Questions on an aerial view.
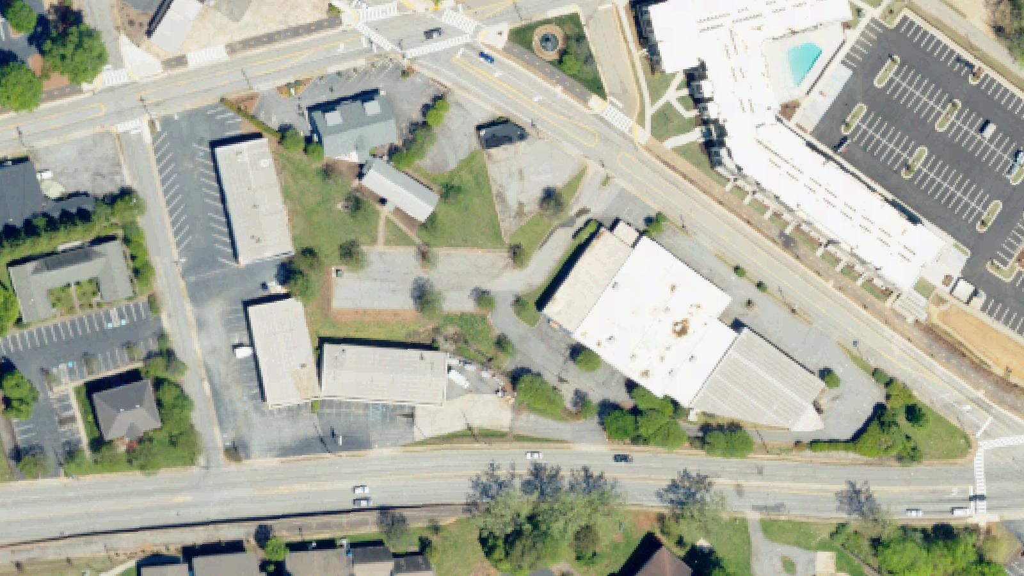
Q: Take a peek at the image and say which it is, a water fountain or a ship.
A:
water fountain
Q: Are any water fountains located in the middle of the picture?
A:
No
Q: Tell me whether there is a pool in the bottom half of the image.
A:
No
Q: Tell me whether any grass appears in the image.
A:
Yes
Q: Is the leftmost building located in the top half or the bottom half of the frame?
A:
top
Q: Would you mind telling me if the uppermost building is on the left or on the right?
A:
left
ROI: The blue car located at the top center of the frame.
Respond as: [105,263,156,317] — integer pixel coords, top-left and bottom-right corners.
[479,52,494,64]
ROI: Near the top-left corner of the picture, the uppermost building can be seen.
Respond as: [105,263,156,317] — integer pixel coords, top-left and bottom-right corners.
[149,0,209,55]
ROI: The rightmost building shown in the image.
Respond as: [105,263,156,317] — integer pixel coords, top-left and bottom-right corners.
[950,279,974,303]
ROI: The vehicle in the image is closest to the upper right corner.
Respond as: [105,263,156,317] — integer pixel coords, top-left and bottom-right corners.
[982,122,995,138]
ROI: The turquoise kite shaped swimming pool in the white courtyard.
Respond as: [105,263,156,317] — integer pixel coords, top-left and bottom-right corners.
[786,40,825,90]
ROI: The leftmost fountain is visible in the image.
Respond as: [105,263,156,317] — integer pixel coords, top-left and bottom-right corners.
[534,26,567,59]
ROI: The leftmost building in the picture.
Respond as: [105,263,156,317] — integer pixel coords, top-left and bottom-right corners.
[0,161,45,227]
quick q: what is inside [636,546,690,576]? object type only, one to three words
house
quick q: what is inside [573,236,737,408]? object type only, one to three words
building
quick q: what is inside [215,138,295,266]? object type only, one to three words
building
